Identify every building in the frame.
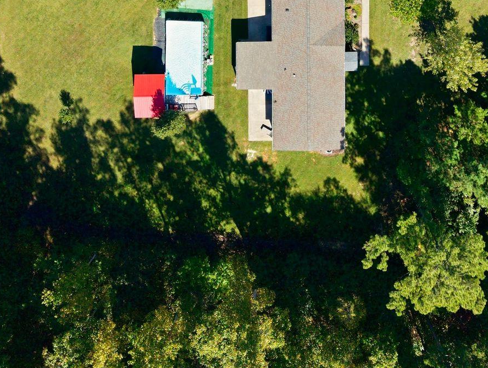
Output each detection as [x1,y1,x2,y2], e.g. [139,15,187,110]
[133,71,167,119]
[235,0,357,155]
